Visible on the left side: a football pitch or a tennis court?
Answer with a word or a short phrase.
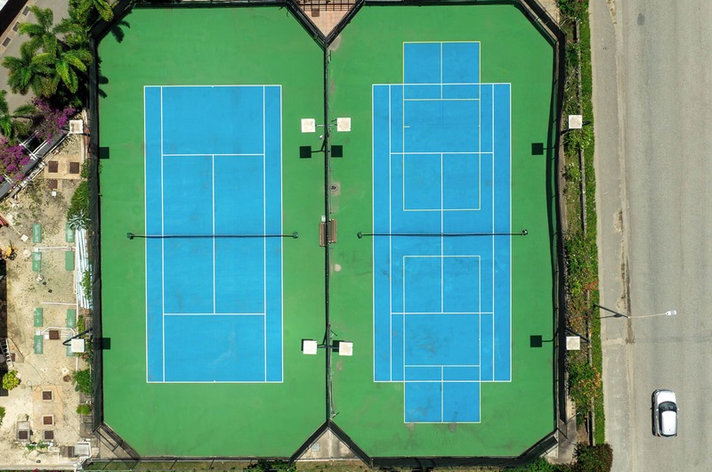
tennis court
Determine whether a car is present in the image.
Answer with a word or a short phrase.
Yes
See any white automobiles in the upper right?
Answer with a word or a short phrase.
No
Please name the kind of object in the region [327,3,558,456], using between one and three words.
tennis court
